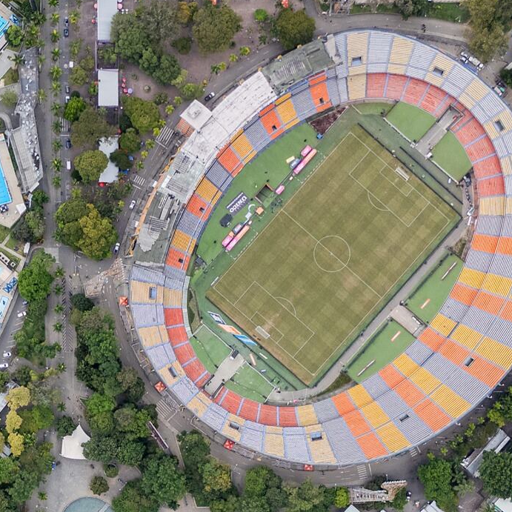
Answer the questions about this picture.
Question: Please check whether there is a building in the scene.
Yes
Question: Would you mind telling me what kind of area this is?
sports ground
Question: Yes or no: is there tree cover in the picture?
Yes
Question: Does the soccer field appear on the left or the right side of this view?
right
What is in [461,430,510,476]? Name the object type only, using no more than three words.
shed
